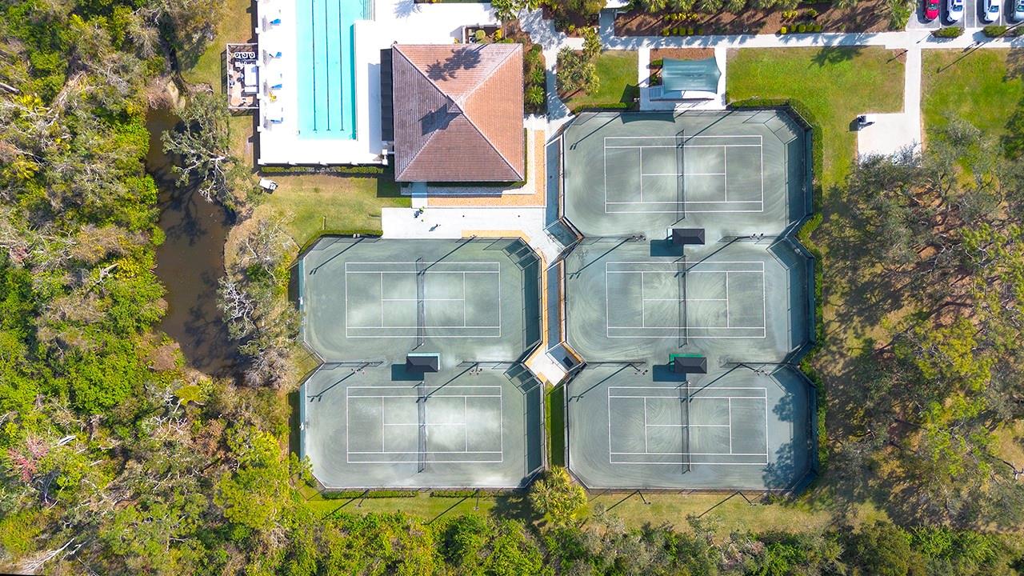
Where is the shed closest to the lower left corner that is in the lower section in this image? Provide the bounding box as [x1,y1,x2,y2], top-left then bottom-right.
[406,354,440,371]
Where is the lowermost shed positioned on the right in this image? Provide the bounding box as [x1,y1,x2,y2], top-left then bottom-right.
[670,355,706,373]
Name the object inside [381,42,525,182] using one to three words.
building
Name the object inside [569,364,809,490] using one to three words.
tennis court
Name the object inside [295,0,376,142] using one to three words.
swimming pool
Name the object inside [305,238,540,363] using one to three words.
tennis court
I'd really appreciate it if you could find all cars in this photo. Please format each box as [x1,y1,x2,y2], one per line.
[984,0,1002,21]
[949,0,967,22]
[1013,0,1024,21]
[925,0,942,20]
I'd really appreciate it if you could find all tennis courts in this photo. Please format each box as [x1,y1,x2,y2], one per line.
[566,110,805,238]
[306,363,542,487]
[566,238,806,364]
[305,238,540,363]
[569,364,809,490]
